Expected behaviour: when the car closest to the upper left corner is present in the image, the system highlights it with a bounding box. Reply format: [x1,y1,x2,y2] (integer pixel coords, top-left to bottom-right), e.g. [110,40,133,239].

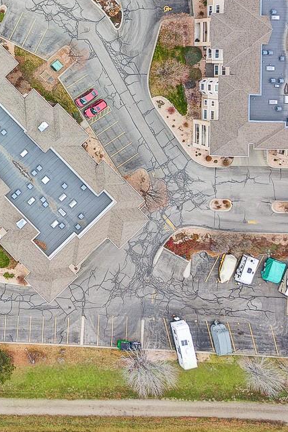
[75,89,100,107]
